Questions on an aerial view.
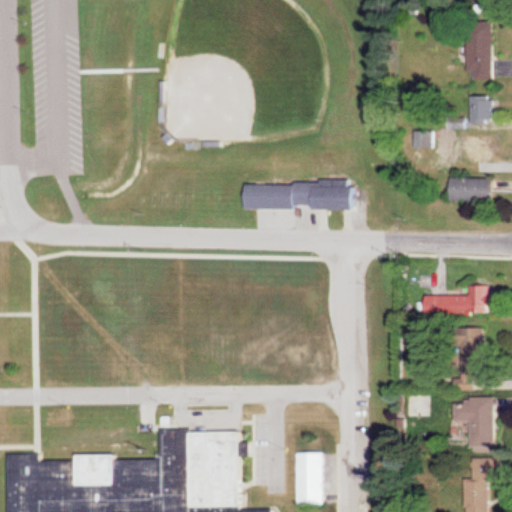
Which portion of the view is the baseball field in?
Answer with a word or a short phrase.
top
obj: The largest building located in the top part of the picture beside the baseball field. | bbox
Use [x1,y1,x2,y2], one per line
[242,178,356,210]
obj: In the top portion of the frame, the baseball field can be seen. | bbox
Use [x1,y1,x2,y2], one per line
[160,0,326,142]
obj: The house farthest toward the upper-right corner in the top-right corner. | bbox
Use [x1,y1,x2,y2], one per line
[466,22,496,80]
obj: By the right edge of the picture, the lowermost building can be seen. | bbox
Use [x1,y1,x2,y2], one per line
[463,459,494,512]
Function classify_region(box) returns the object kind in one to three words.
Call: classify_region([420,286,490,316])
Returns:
house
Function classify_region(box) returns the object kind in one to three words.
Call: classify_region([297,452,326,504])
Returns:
building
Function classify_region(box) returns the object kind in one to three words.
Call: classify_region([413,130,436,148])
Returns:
shed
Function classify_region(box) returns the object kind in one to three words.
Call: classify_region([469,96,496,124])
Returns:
house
